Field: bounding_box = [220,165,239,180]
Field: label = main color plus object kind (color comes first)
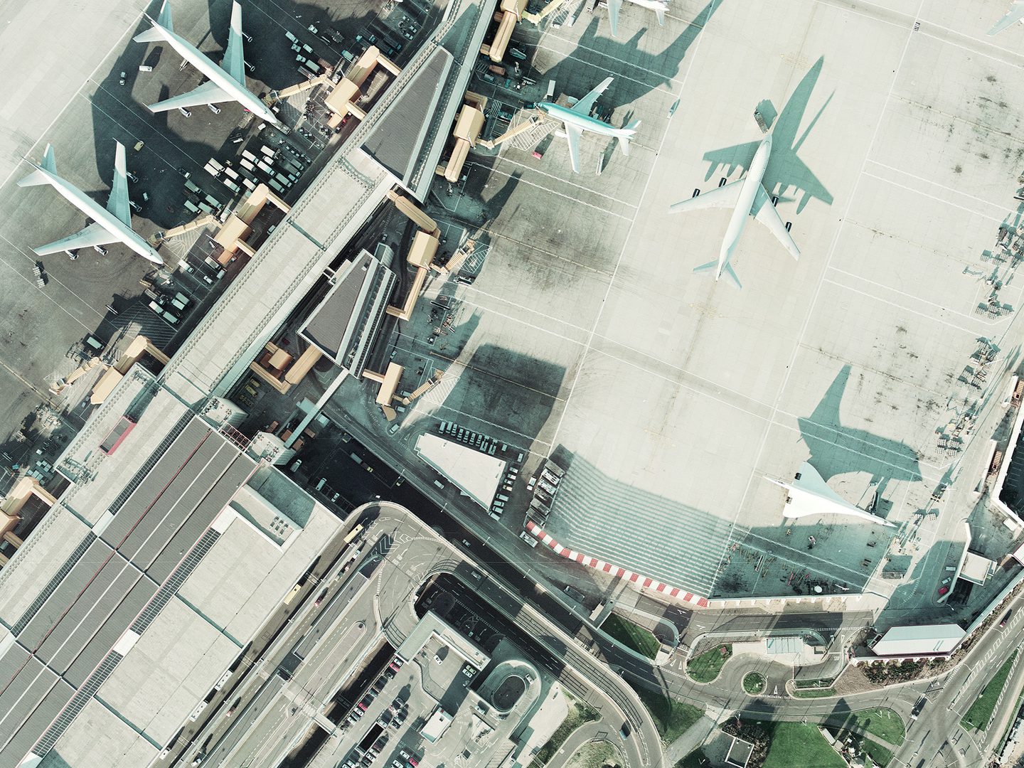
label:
white vehicle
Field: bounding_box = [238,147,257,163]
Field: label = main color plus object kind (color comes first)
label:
white vehicle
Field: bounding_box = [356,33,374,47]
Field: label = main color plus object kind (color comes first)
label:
black vehicle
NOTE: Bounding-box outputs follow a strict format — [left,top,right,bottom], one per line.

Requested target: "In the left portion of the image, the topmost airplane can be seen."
[137,0,278,124]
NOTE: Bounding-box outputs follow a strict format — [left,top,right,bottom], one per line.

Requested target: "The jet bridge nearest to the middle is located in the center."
[397,372,445,404]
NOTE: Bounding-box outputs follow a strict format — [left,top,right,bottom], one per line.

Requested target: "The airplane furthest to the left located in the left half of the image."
[20,139,162,265]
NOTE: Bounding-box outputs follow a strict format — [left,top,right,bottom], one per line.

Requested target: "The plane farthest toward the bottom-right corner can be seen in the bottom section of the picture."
[770,457,896,527]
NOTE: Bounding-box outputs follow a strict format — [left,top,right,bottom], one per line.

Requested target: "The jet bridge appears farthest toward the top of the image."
[527,0,570,25]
